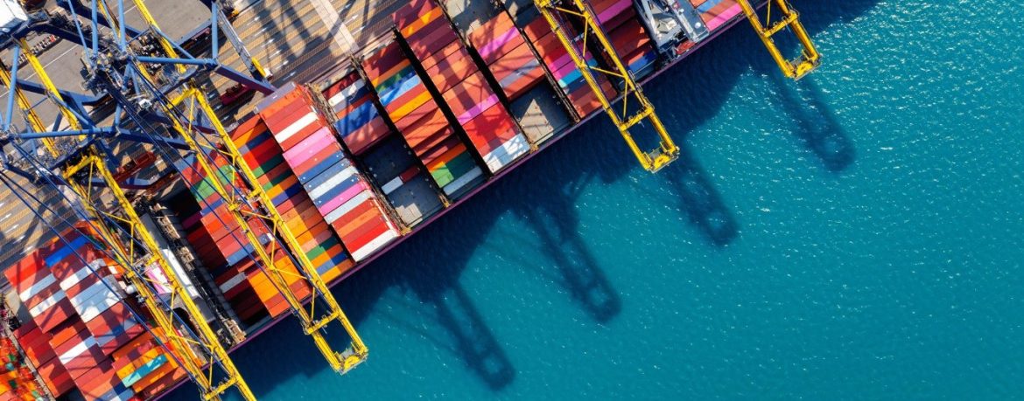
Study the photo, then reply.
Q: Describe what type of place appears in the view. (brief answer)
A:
port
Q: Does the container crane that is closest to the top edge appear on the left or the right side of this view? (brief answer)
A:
right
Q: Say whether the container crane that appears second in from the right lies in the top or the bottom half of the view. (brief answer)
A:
top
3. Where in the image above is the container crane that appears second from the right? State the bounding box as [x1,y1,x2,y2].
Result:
[538,0,685,174]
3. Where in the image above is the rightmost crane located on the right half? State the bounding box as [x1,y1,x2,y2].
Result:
[739,0,830,83]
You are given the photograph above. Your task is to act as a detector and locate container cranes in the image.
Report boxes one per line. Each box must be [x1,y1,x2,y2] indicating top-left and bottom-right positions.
[43,0,368,376]
[0,0,255,401]
[538,0,685,174]
[739,0,830,83]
